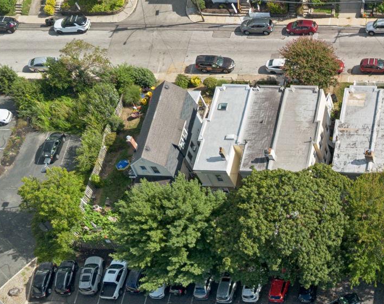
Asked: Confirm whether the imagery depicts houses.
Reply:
Yes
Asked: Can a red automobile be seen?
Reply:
Yes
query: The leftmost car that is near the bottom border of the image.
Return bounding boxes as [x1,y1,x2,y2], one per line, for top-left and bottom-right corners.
[32,261,58,299]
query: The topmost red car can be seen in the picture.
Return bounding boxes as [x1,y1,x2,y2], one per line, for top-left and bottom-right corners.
[286,20,318,37]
